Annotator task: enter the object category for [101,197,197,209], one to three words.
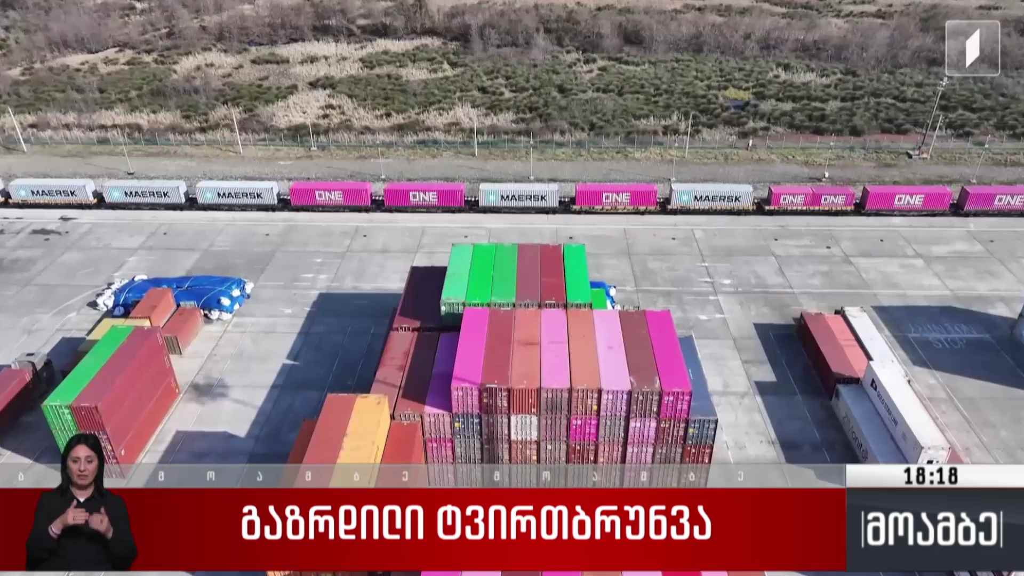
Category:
rail car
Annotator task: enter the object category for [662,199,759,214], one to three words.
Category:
rail car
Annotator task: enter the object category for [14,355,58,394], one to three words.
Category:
truck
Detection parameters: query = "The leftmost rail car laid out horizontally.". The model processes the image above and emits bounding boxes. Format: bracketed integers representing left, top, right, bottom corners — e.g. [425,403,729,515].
[9,195,106,209]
